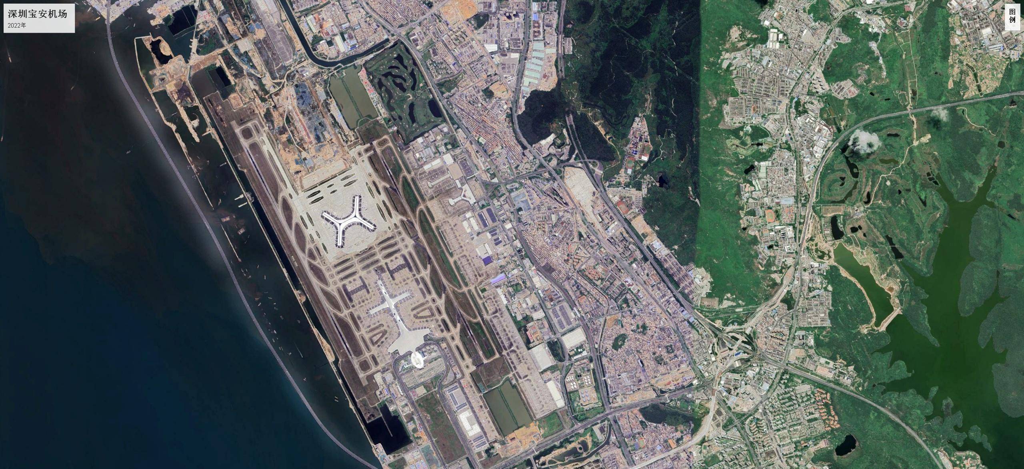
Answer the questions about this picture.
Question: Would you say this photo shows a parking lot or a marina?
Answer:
marina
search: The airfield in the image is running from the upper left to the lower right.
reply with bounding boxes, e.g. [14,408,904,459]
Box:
[204,92,557,444]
